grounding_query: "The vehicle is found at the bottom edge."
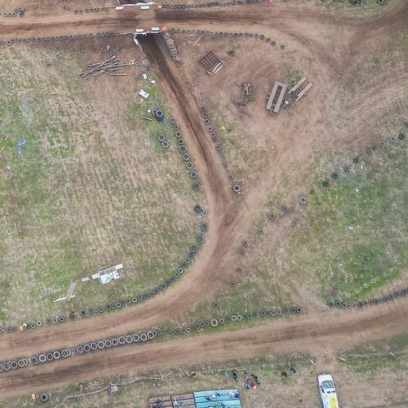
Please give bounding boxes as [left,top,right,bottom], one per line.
[317,369,344,408]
